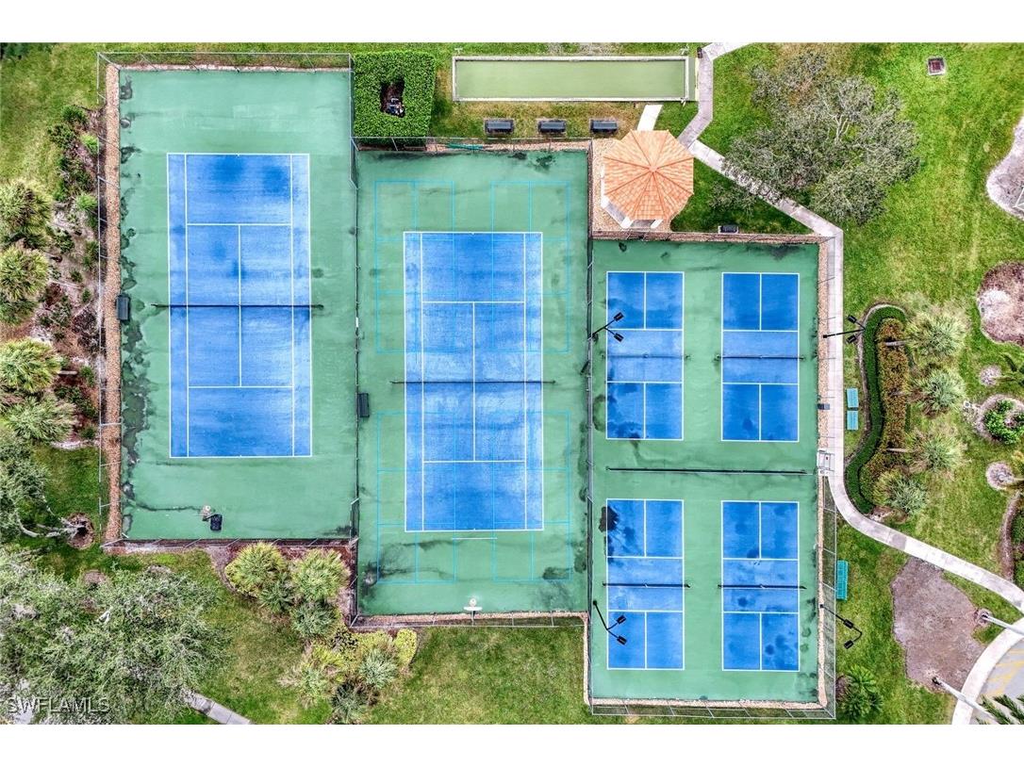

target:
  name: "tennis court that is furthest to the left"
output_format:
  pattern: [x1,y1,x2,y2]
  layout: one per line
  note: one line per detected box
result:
[119,70,359,540]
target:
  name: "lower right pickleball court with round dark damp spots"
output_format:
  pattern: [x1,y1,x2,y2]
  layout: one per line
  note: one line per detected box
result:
[722,501,800,672]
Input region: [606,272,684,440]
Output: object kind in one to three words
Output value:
sports court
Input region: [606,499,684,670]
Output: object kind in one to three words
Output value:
sports court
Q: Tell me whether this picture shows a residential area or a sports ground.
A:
sports ground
